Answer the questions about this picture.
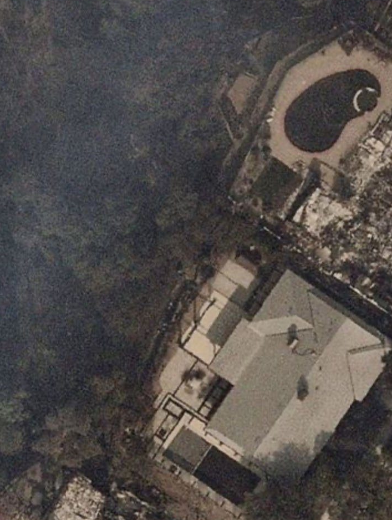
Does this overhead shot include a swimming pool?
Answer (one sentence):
Yes, you can see a swimming pool in this photo.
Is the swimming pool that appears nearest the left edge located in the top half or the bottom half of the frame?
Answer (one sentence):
The bottom half of the photo is where the swimming pool that appears nearest the left edge is.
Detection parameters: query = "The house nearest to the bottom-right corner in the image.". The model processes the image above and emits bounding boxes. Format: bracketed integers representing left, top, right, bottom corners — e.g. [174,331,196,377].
[204,270,390,486]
